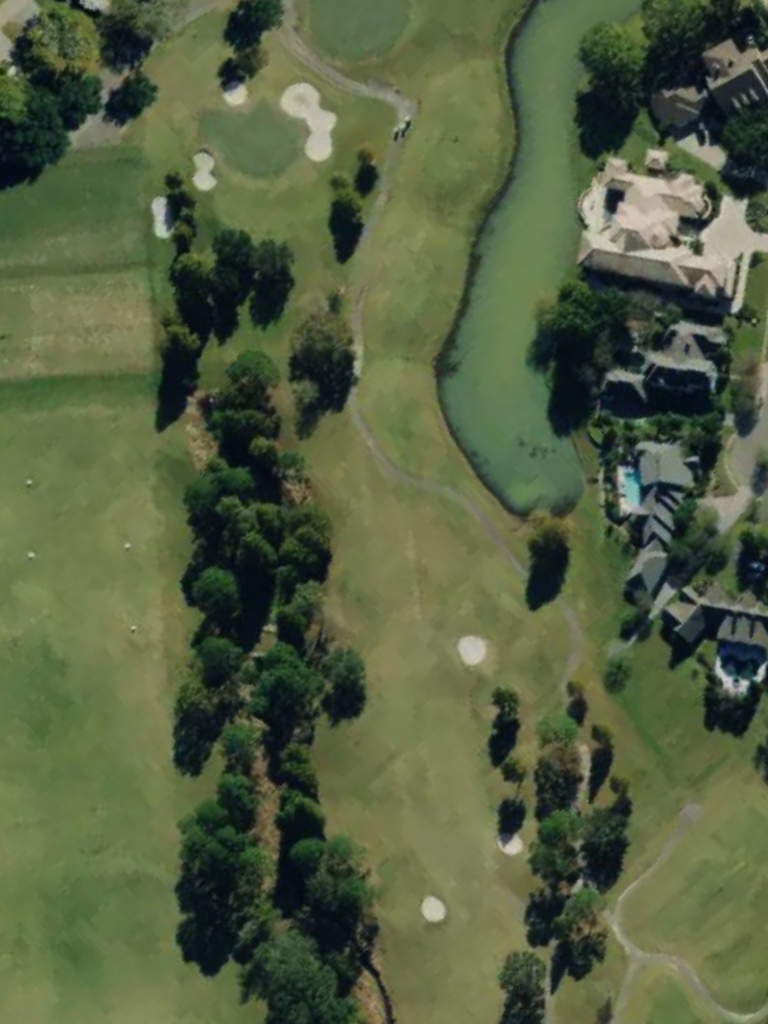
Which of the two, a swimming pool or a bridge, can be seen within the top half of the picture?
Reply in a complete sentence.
Visible within the top half of the picture is a swimming pool.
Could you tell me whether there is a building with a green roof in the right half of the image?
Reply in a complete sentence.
No, there's no building with a green roof to be seen in the right half of the image.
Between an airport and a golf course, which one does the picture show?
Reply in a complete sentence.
What you see here is a golf course.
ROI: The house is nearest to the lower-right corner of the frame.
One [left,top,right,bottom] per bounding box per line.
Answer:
[668,579,768,647]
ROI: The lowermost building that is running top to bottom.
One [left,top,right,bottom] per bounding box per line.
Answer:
[625,438,700,592]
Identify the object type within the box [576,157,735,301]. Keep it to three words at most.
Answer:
house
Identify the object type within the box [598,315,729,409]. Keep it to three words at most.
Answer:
house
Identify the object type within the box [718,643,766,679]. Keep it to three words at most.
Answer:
swimming pool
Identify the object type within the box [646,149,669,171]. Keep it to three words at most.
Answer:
building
